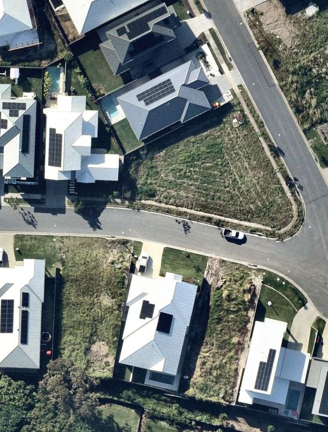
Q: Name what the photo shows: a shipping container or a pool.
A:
pool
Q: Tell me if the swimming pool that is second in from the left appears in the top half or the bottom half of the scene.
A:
top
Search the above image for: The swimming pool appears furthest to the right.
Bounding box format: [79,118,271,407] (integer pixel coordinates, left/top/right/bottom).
[284,388,303,412]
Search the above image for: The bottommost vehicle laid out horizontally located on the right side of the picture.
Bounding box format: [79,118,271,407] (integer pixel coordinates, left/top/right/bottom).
[220,228,247,241]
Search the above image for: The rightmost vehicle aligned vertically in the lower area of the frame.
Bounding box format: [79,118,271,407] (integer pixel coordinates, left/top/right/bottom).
[136,251,149,275]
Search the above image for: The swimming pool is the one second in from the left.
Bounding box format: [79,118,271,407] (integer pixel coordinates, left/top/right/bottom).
[100,95,120,121]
